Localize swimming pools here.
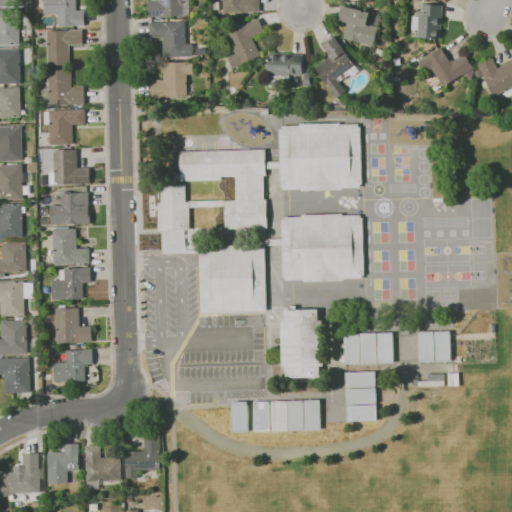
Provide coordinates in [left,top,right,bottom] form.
[40,16,57,29]
[343,70,370,96]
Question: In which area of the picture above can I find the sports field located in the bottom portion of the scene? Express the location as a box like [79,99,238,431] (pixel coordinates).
[176,108,512,512]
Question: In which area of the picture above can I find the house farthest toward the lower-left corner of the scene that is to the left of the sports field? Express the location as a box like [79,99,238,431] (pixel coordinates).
[5,454,39,494]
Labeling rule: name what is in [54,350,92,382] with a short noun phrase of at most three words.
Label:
house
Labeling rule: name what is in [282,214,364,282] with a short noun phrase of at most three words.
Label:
building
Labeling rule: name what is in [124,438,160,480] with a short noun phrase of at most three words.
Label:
house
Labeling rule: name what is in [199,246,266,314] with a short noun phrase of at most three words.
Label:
building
